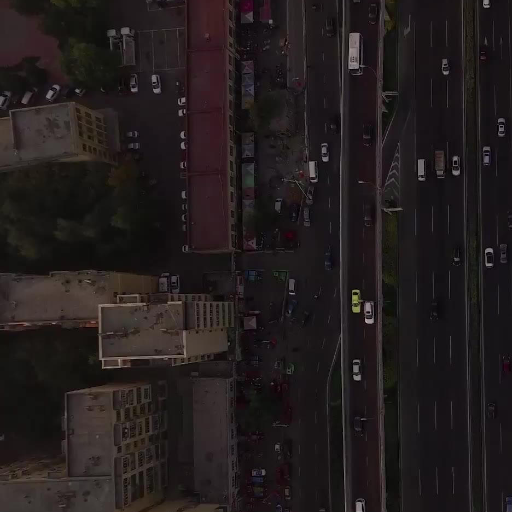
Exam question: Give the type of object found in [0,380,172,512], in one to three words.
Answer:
building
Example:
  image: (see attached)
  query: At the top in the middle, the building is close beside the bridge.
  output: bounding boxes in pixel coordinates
[186,0,241,255]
